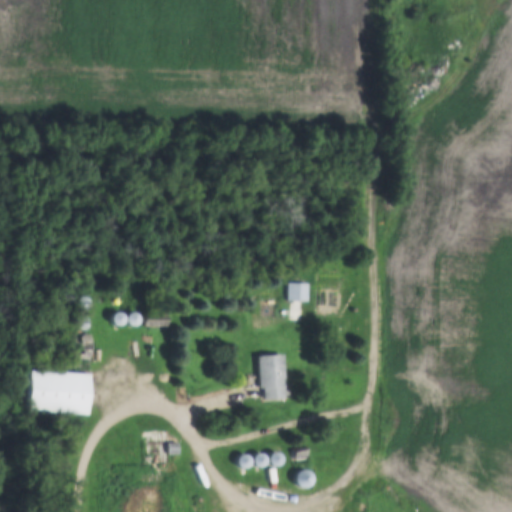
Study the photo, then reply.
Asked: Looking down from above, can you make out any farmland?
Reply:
Yes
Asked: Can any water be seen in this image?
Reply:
No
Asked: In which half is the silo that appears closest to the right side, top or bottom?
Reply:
bottom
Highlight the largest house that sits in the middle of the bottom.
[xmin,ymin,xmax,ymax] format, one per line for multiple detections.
[258,354,290,401]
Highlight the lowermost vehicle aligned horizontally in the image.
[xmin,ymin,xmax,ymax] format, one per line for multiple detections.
[258,490,298,504]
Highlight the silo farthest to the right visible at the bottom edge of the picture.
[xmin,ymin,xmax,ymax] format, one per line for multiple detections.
[297,469,316,489]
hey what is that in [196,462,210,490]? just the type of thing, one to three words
vehicle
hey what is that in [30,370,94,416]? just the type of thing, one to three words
barn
